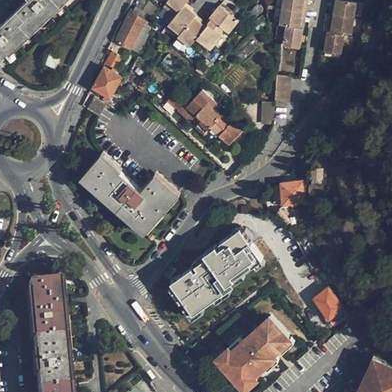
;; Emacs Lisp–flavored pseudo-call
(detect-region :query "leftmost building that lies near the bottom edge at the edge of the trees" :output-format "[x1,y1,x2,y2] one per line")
[28,270,78,392]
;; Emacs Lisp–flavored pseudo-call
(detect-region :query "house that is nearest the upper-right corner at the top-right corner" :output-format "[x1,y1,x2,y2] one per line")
[331,0,357,35]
